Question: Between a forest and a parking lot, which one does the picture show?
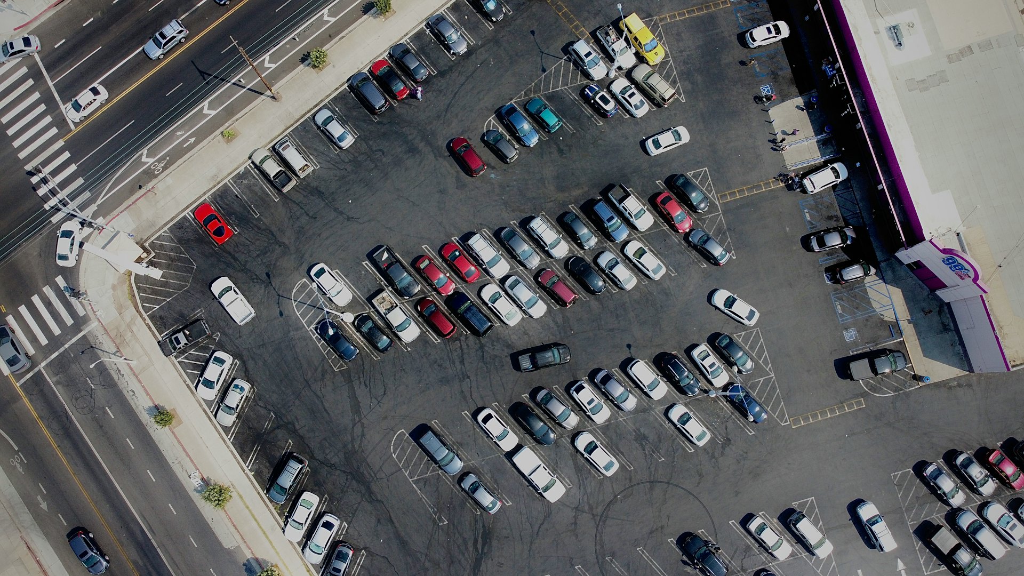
parking lot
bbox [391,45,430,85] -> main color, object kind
black car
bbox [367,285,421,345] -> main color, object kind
white truck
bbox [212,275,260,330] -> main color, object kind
white truck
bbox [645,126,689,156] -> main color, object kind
white car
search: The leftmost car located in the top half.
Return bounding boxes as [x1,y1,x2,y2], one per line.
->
[0,35,42,65]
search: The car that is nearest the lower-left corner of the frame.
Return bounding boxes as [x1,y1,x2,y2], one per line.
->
[69,527,108,574]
